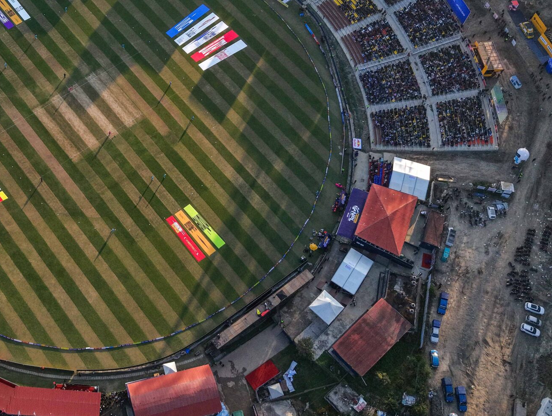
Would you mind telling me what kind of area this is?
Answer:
sports ground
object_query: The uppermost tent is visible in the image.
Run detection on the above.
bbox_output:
[387,157,429,206]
